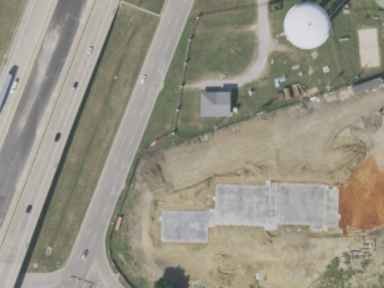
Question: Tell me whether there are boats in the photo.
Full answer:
No, no boat can be seen from above.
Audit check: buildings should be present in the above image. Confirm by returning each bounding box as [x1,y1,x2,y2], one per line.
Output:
[346,78,384,96]
[200,92,232,118]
